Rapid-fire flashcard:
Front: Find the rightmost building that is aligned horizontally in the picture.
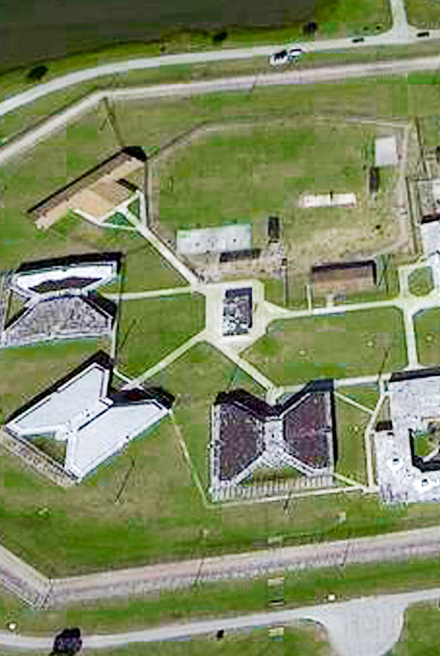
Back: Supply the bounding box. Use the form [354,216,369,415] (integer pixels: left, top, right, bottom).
[314,264,376,294]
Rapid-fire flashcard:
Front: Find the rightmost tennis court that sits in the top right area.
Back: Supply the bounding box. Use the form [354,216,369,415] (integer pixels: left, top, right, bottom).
[376,137,397,165]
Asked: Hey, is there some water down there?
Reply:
No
